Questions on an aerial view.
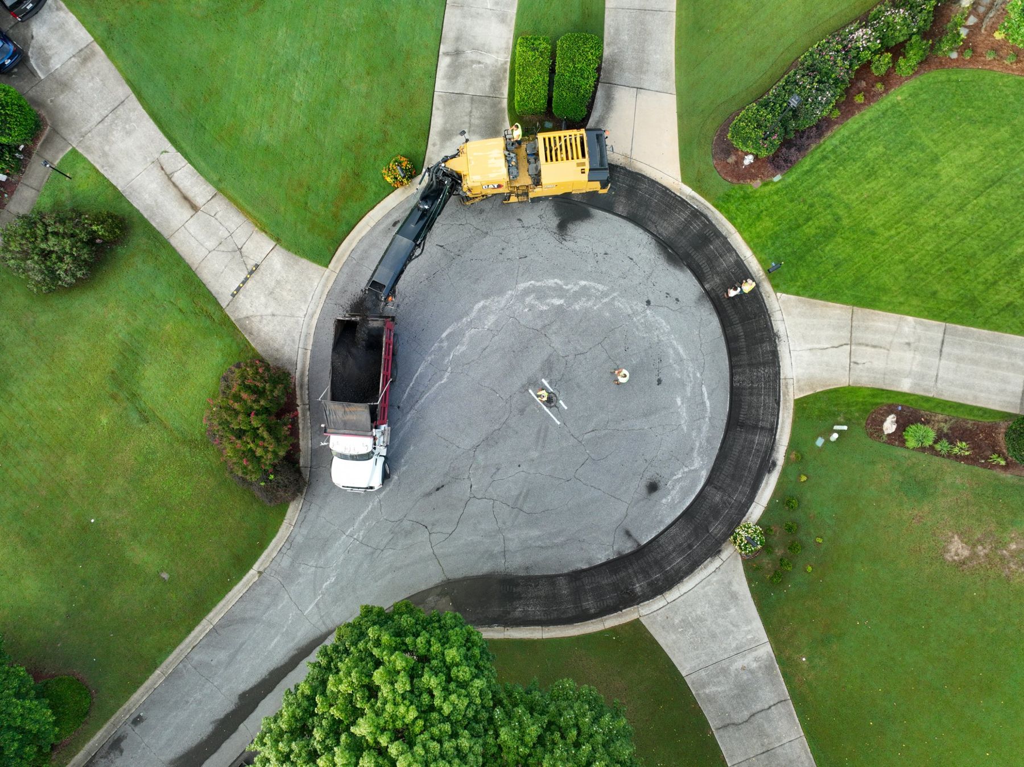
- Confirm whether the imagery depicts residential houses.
No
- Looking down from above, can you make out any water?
No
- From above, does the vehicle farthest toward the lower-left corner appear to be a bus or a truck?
truck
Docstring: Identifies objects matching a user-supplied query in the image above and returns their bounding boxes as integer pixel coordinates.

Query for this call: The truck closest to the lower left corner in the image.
[321,316,396,495]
